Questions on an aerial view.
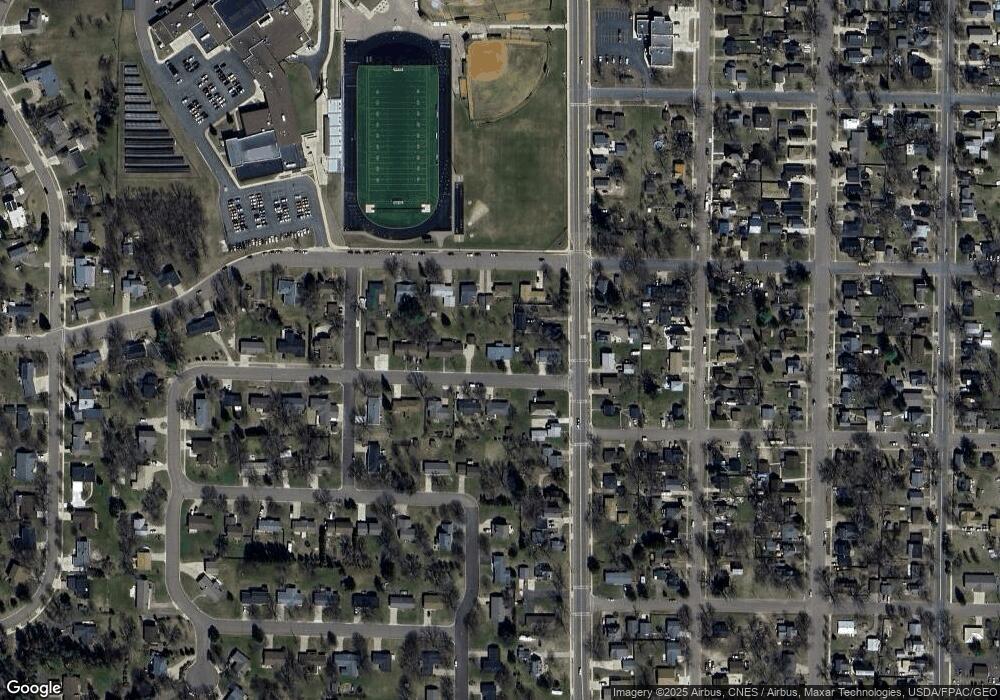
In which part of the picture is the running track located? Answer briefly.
top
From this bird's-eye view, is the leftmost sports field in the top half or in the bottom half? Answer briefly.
top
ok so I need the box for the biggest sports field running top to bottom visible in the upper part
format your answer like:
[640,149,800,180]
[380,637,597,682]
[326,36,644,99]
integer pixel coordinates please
[357,65,438,229]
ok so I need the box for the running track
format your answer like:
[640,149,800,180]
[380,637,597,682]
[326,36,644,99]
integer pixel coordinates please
[344,31,452,239]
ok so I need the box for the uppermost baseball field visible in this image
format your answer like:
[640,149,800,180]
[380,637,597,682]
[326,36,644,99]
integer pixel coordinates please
[420,0,566,24]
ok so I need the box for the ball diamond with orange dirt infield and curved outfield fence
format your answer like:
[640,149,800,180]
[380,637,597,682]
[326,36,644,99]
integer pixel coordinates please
[461,38,549,121]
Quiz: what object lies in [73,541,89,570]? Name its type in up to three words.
house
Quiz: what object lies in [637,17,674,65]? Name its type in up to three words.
building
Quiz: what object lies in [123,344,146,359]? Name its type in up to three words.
house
